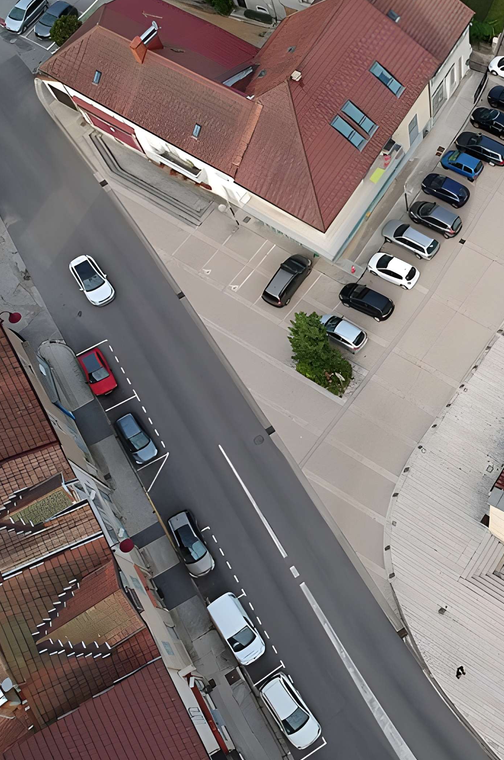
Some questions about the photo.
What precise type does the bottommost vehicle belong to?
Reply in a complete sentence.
I'd say the bottommost vehicle is a car.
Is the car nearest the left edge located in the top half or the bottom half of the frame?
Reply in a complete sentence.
You can find the car nearest the left edge in the top half.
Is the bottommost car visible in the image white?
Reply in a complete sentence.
Yes, the bottommost car appears white.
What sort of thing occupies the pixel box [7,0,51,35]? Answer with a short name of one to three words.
car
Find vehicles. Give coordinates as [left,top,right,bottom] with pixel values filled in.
[259,669,321,751]
[35,0,77,43]
[406,200,464,239]
[380,224,444,263]
[74,346,119,398]
[439,150,486,182]
[205,589,263,667]
[7,0,51,35]
[469,109,504,140]
[454,133,504,167]
[486,91,504,111]
[68,254,117,307]
[487,59,504,81]
[337,281,398,323]
[258,255,314,309]
[164,509,216,580]
[113,410,160,466]
[365,254,423,291]
[419,176,472,209]
[317,312,372,354]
